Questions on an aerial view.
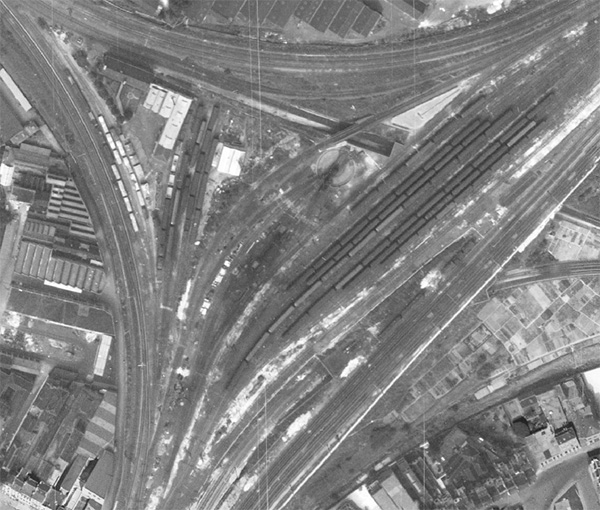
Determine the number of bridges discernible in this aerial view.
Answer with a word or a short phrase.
1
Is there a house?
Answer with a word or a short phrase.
Yes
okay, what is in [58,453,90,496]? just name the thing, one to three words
building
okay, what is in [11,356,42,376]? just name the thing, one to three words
shed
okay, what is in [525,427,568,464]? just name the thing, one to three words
house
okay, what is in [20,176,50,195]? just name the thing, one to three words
building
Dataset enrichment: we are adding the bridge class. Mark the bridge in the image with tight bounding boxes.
[306,101,398,158]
